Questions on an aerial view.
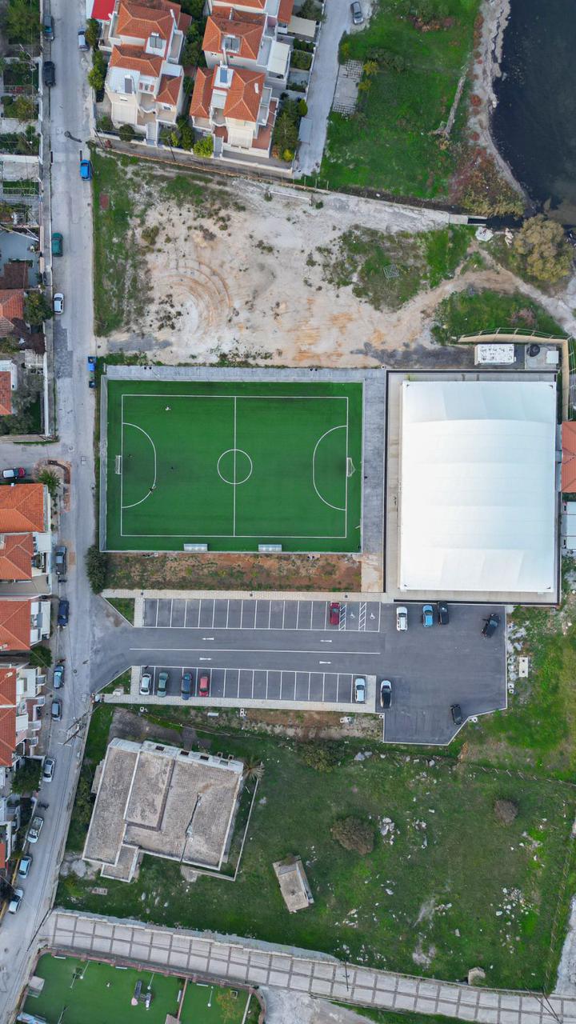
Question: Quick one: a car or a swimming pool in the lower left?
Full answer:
Looking in the lower left, you will find a car.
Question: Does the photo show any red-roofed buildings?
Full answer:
Yes, looking at the shot, I can spot a red-roofed building.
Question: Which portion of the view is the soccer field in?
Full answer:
You can find the soccer field in the center area of the picture.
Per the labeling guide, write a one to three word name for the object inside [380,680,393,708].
vehicle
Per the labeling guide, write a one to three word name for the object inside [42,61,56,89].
car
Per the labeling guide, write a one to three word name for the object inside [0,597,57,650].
house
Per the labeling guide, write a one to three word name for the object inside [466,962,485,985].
shed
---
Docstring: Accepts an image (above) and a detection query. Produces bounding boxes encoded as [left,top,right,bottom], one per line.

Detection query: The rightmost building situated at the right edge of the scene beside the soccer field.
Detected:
[385,369,561,607]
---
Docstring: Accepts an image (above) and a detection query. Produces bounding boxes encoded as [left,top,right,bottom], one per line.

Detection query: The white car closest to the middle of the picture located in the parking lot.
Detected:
[396,605,409,630]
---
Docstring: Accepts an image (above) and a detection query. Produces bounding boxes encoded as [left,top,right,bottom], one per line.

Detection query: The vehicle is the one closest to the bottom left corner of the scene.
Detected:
[8,887,25,914]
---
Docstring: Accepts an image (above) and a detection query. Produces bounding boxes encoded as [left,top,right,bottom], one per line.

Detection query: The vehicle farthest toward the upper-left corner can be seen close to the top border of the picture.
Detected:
[42,14,55,41]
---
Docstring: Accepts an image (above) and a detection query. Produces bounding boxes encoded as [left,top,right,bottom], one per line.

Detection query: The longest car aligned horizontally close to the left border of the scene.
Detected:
[2,467,26,479]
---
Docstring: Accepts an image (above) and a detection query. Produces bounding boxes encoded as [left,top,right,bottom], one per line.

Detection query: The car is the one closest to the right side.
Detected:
[482,613,499,638]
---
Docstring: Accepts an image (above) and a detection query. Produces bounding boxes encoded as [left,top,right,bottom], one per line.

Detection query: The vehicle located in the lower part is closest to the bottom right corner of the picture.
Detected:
[450,703,463,726]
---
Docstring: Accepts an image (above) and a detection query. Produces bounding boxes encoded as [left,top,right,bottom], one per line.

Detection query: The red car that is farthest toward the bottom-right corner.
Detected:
[329,601,341,625]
